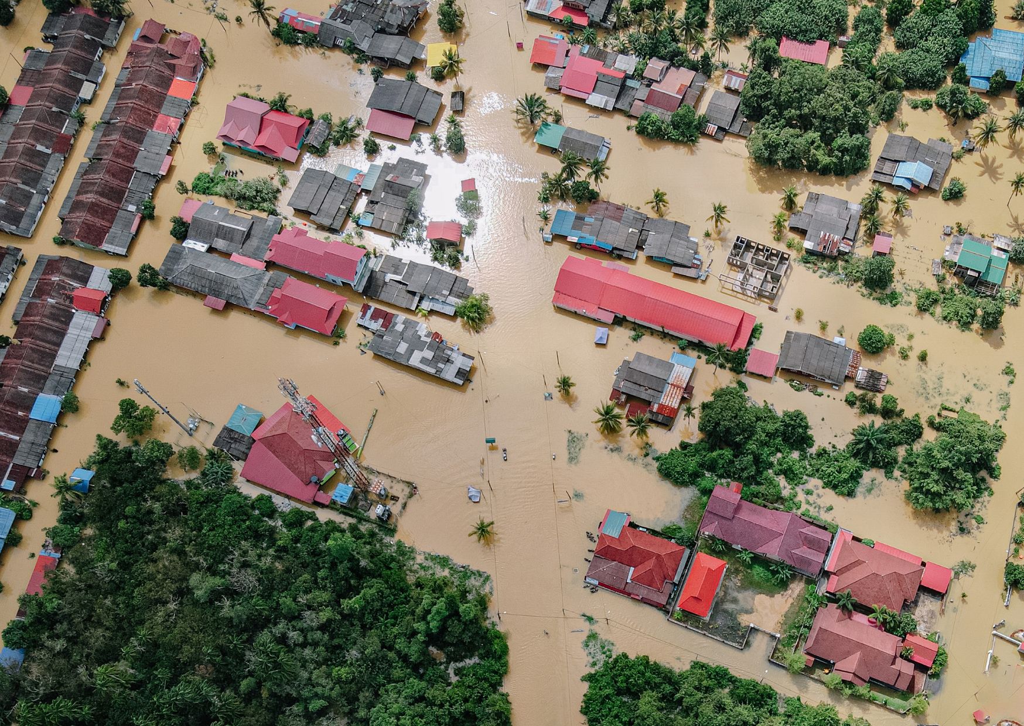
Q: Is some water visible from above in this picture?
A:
Yes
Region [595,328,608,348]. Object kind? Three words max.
gazebo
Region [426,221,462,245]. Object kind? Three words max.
shed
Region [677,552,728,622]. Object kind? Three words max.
building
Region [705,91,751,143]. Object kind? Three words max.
house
